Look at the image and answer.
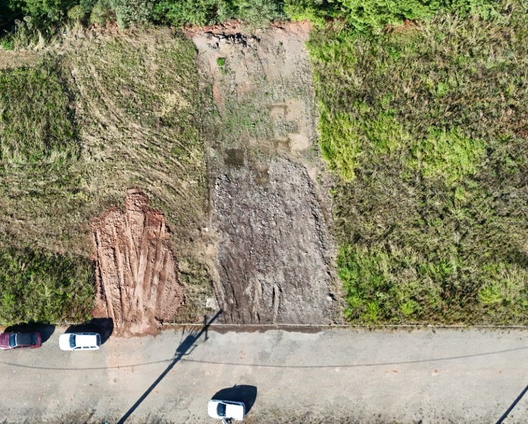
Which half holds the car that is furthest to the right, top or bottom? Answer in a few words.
bottom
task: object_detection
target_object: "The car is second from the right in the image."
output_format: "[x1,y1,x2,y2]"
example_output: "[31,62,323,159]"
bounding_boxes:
[58,332,100,350]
